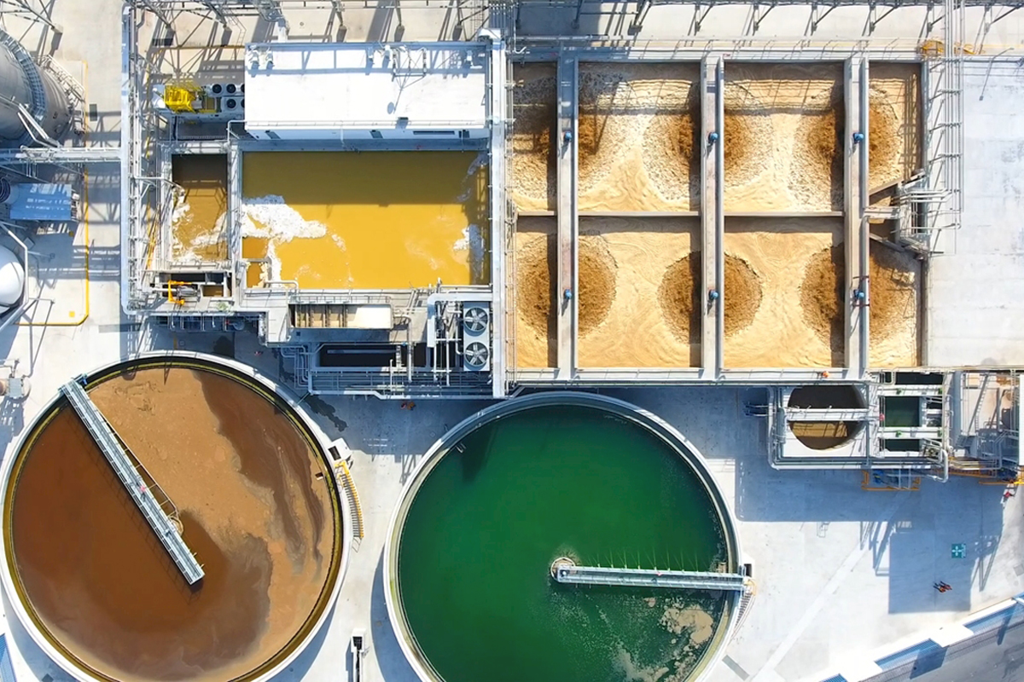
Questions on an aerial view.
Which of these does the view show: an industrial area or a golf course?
industrial area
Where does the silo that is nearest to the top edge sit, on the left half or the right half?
left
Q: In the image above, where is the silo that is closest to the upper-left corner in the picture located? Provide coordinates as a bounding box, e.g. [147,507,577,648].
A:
[0,21,86,149]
